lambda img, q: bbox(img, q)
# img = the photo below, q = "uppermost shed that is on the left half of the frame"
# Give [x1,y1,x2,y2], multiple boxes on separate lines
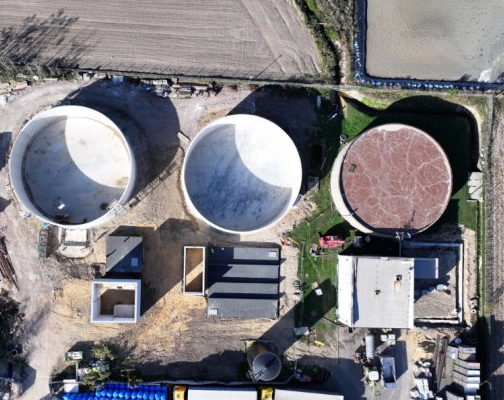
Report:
[106,236,142,271]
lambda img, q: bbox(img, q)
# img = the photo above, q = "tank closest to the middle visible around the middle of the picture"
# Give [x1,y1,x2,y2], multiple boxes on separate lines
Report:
[180,113,302,235]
